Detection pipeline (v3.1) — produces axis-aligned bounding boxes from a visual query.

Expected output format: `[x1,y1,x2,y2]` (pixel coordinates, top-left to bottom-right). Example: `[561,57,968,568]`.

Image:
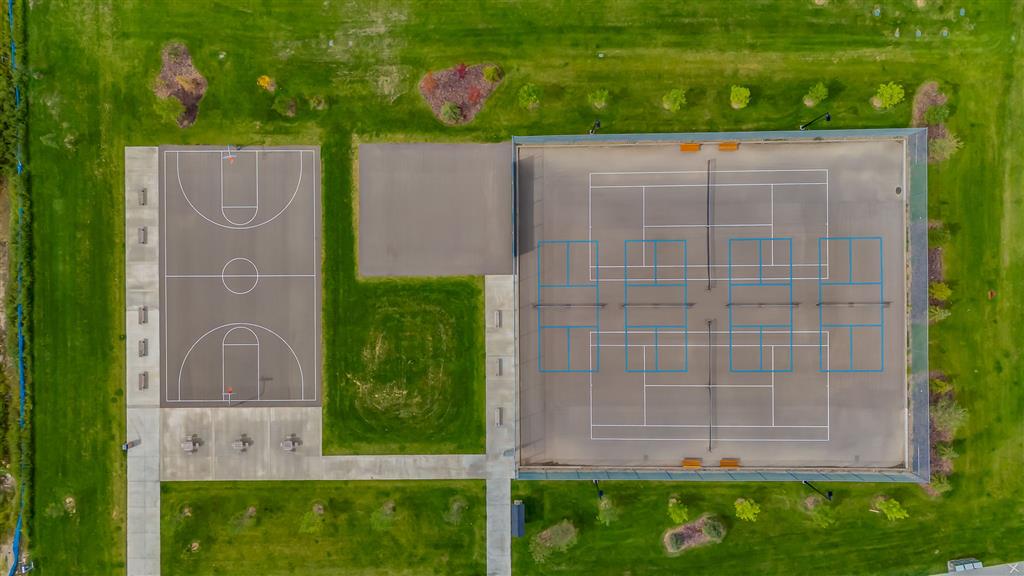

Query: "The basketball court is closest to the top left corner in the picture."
[159,147,322,407]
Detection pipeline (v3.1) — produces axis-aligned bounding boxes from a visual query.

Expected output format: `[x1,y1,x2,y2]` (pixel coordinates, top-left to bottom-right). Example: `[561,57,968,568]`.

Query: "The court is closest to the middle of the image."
[538,240,600,372]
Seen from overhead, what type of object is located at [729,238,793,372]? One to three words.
sports court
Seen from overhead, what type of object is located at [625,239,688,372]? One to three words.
sports court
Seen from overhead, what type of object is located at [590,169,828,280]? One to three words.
tennis court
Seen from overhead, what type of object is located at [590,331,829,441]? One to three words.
tennis court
